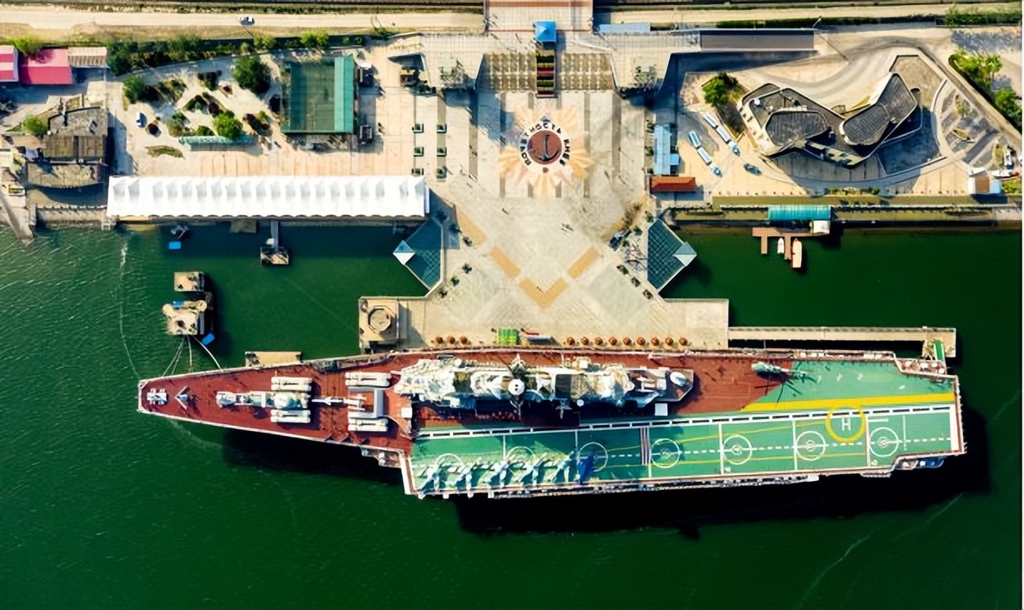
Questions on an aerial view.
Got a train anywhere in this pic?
Yes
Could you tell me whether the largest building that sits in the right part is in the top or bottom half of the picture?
top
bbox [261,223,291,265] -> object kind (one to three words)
pier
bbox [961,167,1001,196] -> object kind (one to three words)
shed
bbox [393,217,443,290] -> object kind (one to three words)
building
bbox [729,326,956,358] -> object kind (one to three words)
pier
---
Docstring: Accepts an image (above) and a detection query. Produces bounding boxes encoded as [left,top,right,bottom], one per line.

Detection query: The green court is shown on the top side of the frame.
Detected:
[284,55,357,138]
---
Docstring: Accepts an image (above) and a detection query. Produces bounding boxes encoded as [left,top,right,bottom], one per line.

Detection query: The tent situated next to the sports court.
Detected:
[107,176,429,219]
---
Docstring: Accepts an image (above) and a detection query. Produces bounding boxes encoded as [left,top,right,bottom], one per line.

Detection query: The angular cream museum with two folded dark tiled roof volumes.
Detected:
[735,72,923,167]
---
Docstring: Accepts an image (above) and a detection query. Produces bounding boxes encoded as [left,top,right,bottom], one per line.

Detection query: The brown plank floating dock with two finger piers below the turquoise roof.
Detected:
[751,227,827,259]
